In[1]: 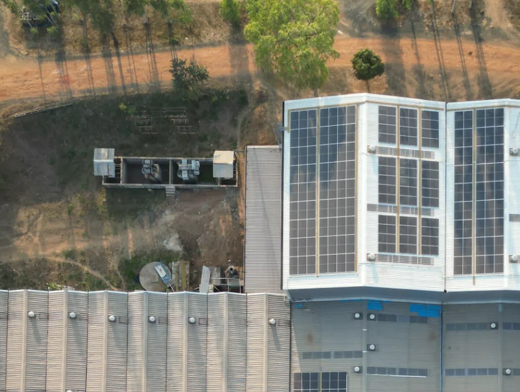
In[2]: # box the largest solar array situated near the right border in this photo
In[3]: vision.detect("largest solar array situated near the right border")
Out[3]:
[454,107,503,275]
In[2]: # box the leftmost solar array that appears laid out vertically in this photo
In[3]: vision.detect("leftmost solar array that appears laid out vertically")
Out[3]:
[290,104,355,275]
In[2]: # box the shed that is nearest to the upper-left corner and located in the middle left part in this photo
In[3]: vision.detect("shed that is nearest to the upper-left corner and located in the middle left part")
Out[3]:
[93,151,121,183]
